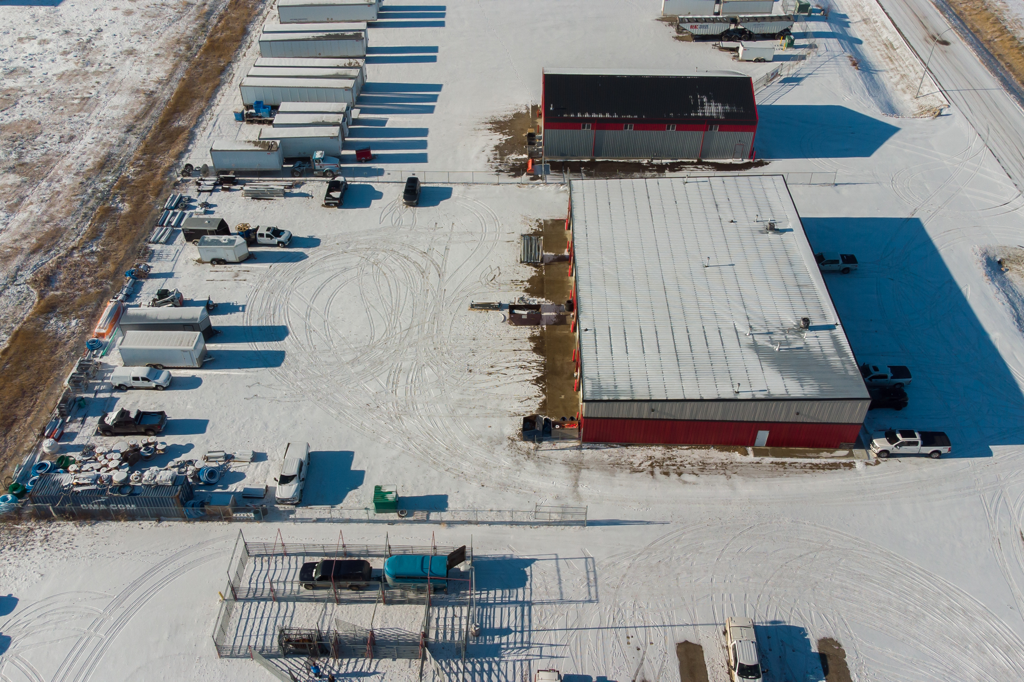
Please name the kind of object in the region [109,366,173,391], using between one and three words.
truck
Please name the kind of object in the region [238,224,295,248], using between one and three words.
truck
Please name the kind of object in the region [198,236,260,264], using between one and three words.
trailer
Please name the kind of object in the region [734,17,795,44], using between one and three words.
trailer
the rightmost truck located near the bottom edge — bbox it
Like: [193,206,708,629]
[730,615,773,682]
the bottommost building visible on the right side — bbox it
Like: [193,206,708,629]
[568,173,873,449]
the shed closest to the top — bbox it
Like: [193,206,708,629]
[540,68,759,162]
